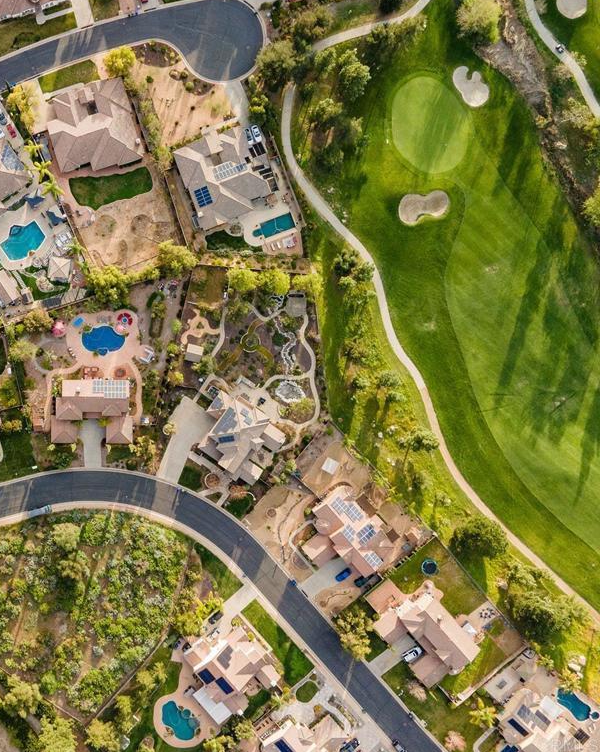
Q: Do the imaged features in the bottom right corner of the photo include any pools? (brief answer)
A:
Yes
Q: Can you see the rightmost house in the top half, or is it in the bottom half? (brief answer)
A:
bottom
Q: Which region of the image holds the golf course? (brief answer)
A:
right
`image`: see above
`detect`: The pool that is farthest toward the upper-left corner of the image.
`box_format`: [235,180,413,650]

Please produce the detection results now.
[0,219,47,261]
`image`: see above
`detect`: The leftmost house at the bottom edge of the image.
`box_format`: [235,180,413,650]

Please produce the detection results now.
[184,622,282,725]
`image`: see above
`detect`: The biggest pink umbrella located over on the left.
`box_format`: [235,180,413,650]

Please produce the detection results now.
[50,320,64,333]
